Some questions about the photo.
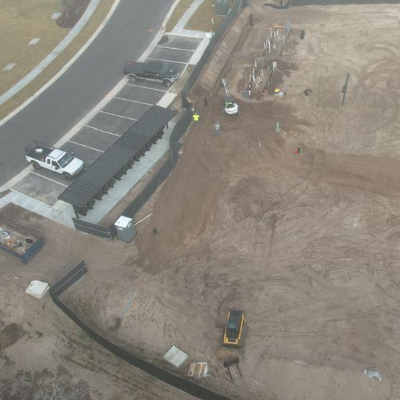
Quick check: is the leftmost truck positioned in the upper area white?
Yes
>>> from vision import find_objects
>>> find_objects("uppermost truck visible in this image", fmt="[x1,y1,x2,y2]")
[122,62,181,86]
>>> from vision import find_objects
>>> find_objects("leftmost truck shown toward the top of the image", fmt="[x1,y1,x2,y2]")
[23,142,86,177]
